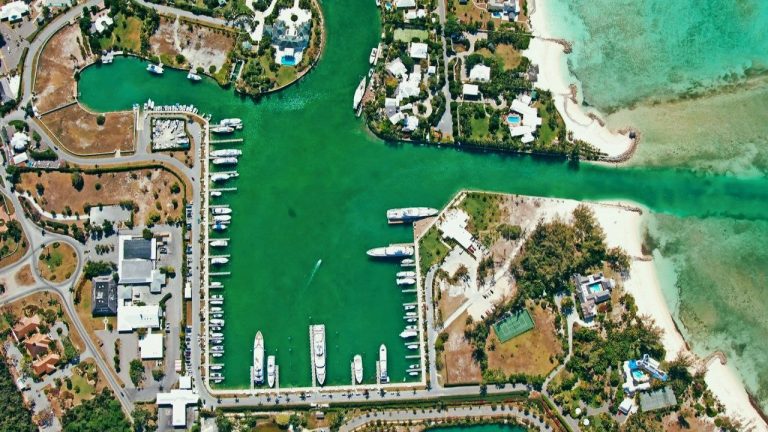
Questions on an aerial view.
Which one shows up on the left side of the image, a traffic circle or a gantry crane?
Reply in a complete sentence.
You can see a traffic circle on the left side of the image.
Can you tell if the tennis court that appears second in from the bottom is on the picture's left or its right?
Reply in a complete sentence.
The tennis court that appears second in from the bottom appears in the right half of the scene.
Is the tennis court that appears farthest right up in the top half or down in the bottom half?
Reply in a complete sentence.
It is in the bottom half that the tennis court that appears farthest right appears.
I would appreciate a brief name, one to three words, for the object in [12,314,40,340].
house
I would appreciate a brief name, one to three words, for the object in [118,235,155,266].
building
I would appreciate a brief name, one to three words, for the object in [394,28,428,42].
tennis court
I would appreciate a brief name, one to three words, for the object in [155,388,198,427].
building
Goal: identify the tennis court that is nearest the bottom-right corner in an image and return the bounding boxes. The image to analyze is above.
[641,387,676,411]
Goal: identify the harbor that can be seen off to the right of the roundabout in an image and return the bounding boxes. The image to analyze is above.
[132,110,426,394]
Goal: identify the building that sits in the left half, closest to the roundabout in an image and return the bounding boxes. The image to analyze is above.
[91,278,116,316]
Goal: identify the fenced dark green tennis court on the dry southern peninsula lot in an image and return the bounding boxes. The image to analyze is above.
[494,309,535,344]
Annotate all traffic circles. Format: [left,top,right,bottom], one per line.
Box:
[31,236,84,289]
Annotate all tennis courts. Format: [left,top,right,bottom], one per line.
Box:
[641,387,676,411]
[394,28,428,42]
[494,309,535,344]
